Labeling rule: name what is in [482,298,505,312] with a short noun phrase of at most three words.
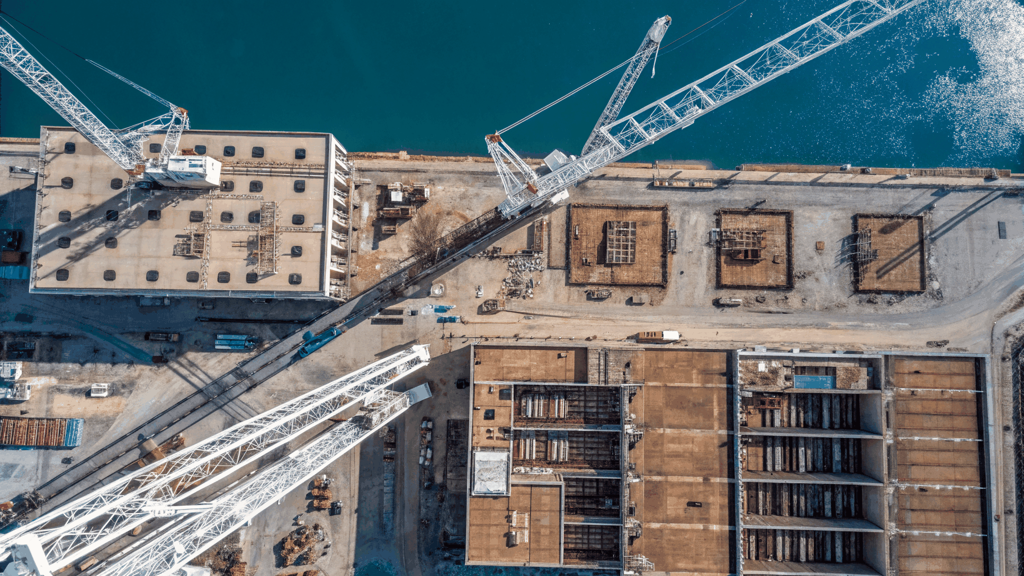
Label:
vehicle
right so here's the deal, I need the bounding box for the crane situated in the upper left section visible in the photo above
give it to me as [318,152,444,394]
[0,13,220,206]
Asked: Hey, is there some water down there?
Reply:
Yes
